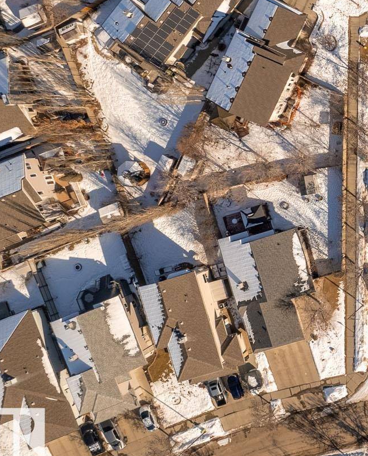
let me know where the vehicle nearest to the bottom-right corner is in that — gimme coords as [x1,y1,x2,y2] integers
[225,379,246,401]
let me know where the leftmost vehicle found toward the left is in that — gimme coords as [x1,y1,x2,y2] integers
[75,422,105,456]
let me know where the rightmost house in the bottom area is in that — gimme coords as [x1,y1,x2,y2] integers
[222,226,322,350]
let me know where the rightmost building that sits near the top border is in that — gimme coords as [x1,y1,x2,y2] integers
[207,0,314,127]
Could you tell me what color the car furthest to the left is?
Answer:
black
